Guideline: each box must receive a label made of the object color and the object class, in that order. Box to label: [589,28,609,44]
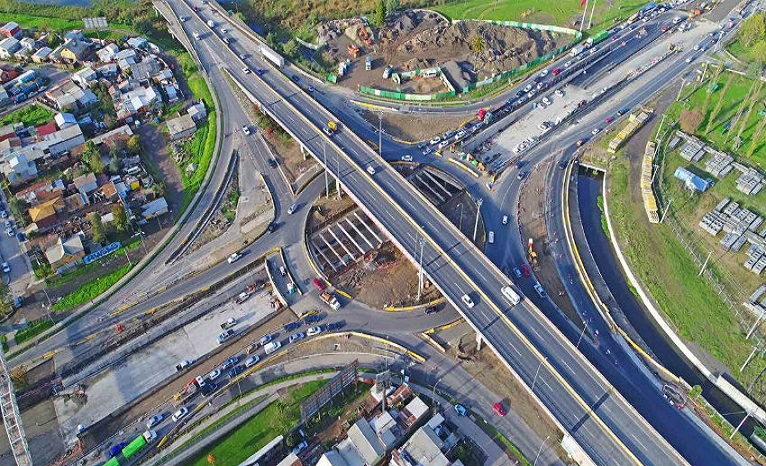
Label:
green vehicle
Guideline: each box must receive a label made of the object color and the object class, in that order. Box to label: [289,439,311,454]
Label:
blue vehicle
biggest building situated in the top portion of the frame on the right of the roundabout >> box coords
[672,165,710,192]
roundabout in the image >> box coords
[264,130,540,360]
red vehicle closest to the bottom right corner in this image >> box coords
[494,401,506,416]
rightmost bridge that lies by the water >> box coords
[714,376,766,425]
